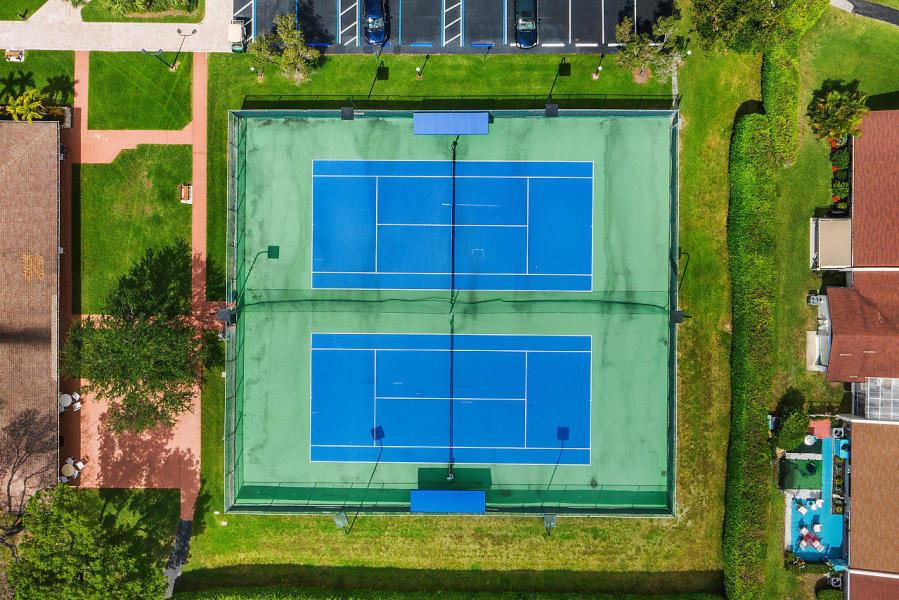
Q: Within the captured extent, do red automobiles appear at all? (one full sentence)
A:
No, I can see no red automobile in this picture.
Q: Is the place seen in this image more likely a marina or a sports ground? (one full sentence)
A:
The area seen from above is a sports ground.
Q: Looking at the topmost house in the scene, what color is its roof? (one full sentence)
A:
The roof of the topmost house is red.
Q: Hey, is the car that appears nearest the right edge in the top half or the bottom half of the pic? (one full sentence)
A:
The top half of the photo is where the car that appears nearest the right edge is.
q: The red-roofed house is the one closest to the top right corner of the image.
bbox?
[811,108,899,268]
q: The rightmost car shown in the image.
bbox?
[514,0,541,48]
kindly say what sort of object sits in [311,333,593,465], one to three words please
tennis court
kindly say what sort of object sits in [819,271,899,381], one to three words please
house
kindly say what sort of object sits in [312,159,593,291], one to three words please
tennis court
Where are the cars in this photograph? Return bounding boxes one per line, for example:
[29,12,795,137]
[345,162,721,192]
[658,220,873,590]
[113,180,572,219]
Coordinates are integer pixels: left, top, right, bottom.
[514,0,541,48]
[361,0,388,45]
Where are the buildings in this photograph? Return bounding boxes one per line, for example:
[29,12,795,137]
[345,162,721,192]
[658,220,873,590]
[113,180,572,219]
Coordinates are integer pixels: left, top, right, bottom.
[811,108,899,268]
[819,271,899,381]
[843,570,899,600]
[0,119,61,512]
[845,421,899,571]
